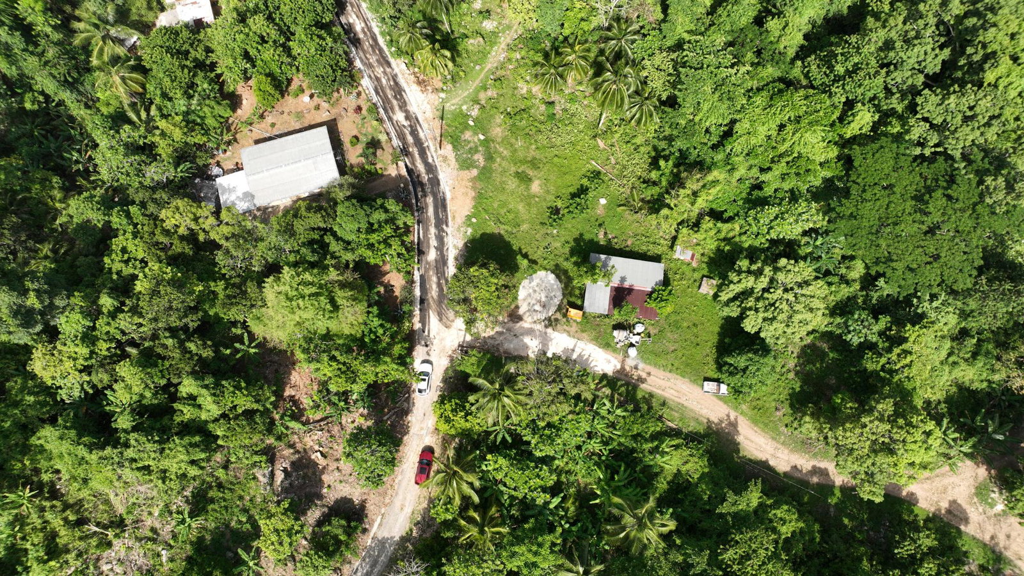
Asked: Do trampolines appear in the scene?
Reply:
No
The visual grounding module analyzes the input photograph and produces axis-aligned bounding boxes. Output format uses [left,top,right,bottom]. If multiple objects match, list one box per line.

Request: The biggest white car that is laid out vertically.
[417,361,435,396]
